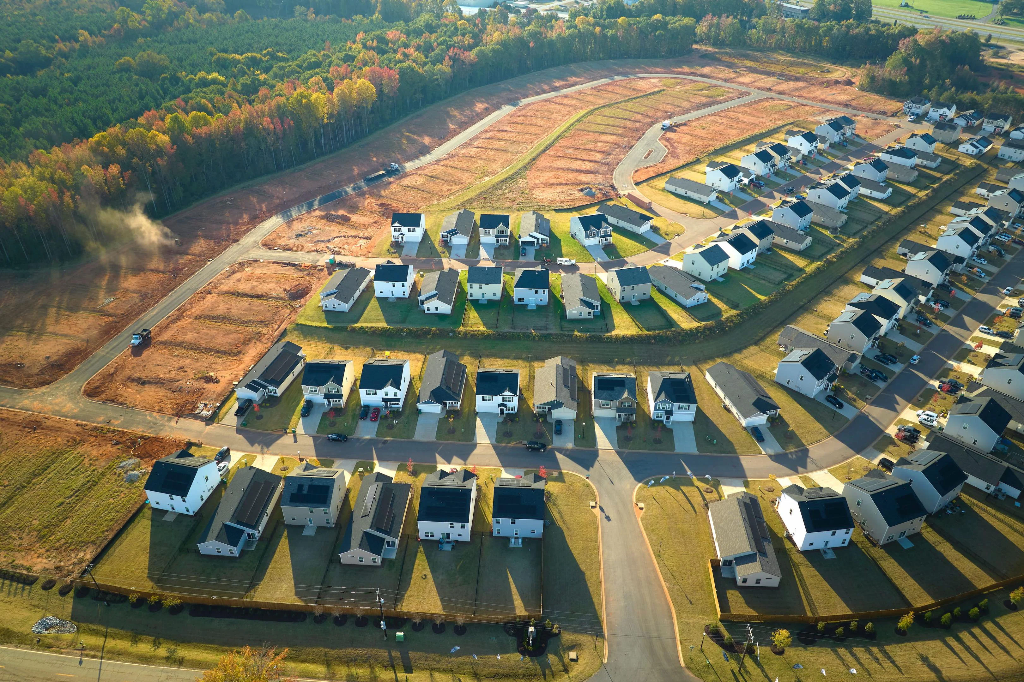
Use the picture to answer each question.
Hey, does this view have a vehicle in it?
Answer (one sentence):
Yes, this view includes a vehicle.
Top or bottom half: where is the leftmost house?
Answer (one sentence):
Seen from above, the leftmost house lies in the bottom half of the view.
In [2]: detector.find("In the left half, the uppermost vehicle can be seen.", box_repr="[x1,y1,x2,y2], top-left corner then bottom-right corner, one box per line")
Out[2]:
[367,160,401,178]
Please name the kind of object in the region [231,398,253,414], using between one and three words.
vehicle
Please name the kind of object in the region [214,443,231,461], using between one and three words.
car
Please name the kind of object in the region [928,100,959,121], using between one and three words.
house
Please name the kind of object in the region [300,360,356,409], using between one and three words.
house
